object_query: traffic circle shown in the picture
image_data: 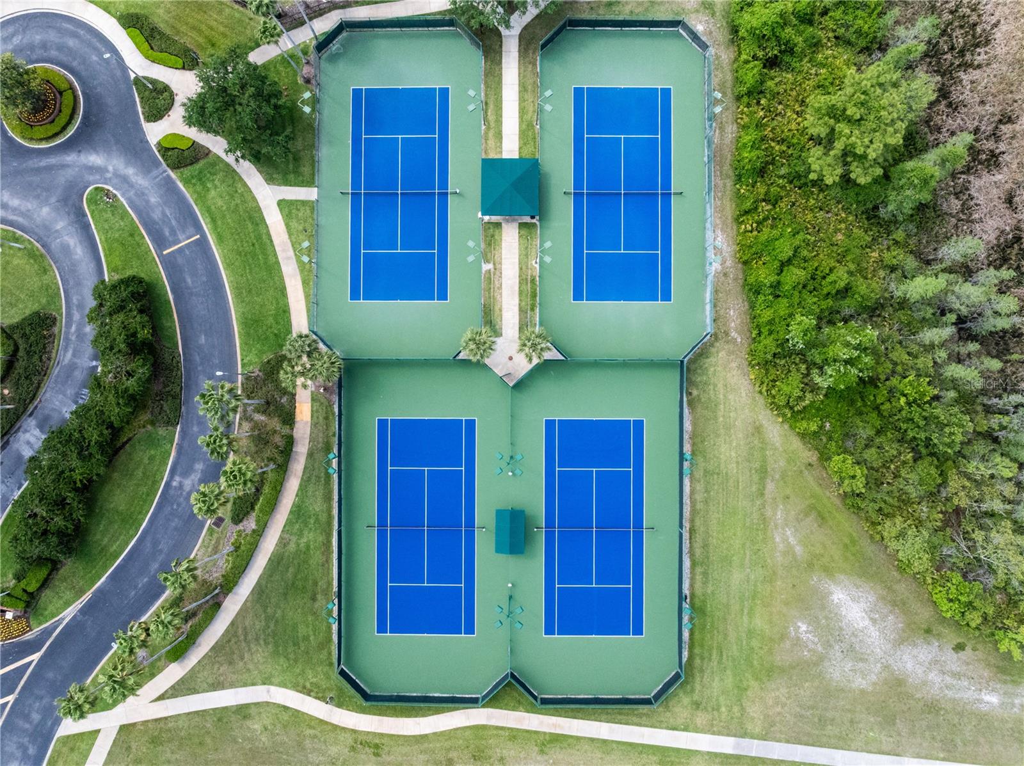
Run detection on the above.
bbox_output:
[0,63,82,148]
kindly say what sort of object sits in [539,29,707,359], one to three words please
tennis court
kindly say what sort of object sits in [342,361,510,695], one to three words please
tennis court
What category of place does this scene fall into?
sports ground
